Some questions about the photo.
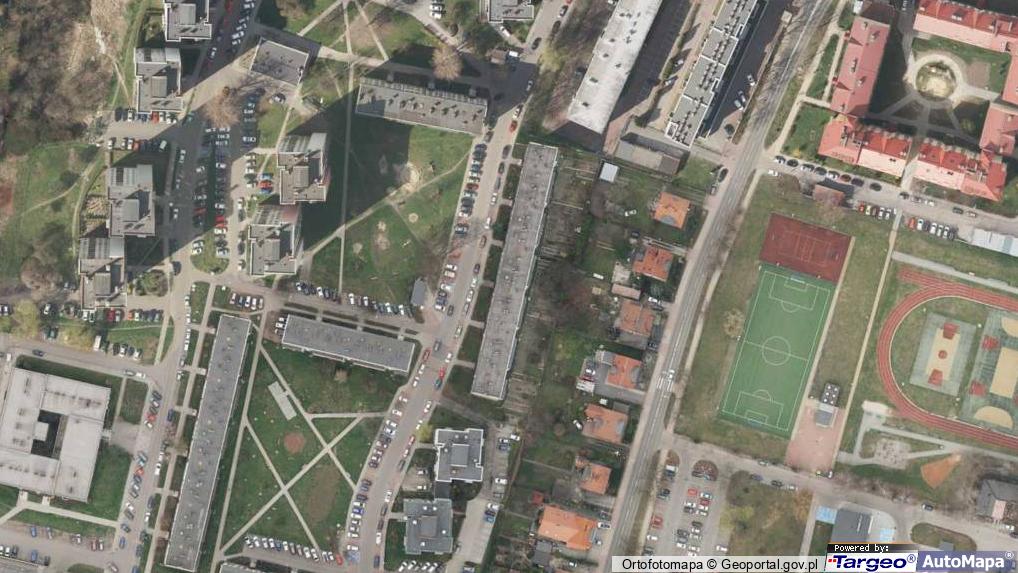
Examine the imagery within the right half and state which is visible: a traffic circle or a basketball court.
basketball court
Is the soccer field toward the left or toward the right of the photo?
right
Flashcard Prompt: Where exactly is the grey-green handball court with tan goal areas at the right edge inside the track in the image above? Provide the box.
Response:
[962,309,1018,432]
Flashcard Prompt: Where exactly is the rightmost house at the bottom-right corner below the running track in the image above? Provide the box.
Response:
[977,477,1018,524]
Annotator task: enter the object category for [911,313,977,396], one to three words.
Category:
basketball court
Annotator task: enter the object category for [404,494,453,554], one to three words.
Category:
building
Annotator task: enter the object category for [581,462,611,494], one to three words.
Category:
house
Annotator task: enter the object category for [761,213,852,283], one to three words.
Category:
sports court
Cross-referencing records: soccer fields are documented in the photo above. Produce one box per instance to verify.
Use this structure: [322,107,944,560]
[718,262,836,440]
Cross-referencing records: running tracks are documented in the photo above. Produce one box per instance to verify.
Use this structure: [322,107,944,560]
[878,277,1018,448]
